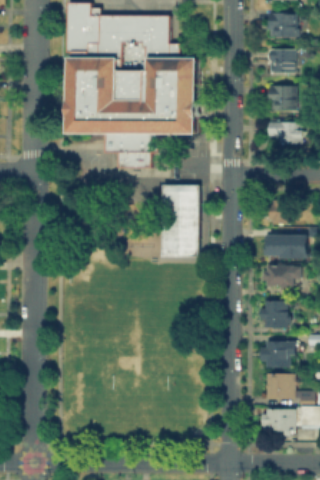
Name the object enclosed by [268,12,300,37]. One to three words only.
house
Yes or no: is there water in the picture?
No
